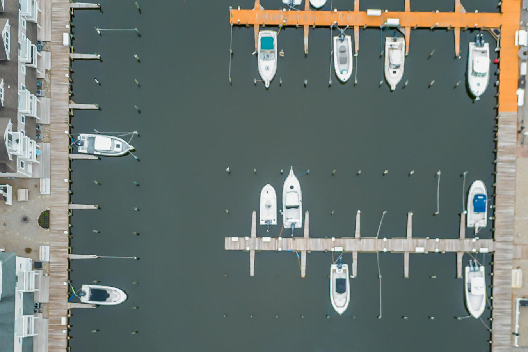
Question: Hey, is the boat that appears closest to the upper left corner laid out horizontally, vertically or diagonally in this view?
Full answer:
In this picture, the boat that appears closest to the upper left corner is oriented horizontally.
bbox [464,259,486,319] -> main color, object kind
white boat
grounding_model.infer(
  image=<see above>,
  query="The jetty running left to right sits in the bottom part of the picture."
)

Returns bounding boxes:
[225,210,496,279]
